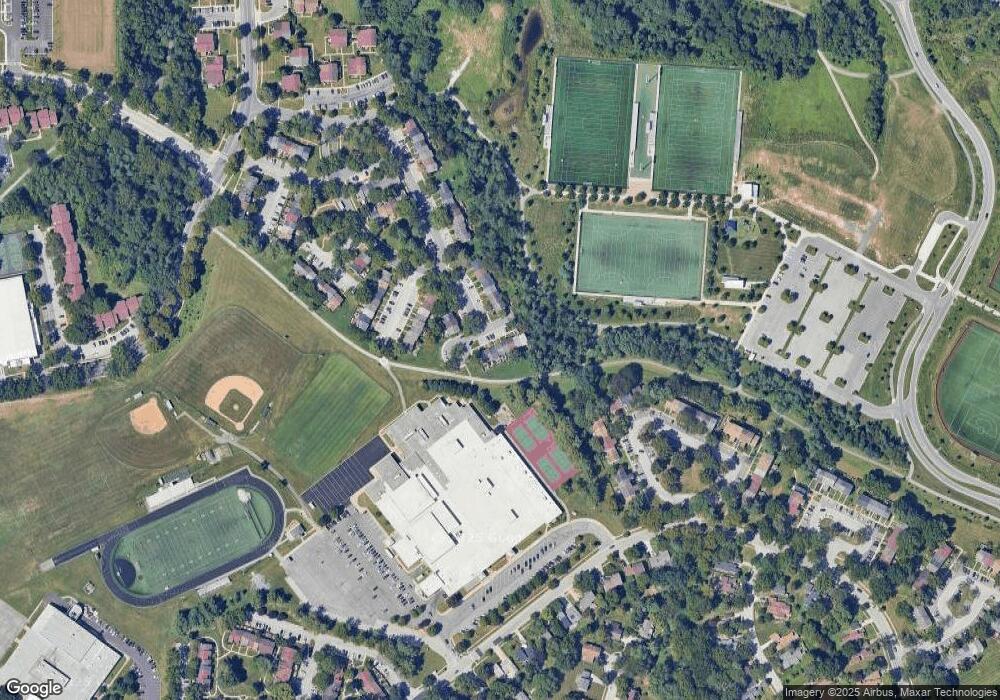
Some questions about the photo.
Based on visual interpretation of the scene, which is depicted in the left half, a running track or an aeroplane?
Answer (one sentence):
Looking in the left half, you will find a running track.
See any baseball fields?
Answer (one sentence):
Yes, there's a baseball field here.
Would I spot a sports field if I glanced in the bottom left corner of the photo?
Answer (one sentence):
Yes, there is a sports field in the bottom left corner of the photo.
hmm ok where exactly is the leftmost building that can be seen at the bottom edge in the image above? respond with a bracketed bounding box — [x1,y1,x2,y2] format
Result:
[0,603,124,700]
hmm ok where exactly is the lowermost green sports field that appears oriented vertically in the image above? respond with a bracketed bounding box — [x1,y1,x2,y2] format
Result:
[938,320,1000,460]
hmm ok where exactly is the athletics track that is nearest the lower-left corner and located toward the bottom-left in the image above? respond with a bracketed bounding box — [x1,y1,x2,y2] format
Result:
[54,468,286,607]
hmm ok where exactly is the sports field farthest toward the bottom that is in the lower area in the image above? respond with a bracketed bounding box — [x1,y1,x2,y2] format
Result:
[114,486,273,595]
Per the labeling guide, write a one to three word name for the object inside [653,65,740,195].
sports field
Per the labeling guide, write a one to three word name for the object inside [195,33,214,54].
house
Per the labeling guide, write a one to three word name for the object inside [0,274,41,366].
building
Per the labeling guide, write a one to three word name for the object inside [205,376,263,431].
baseball field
